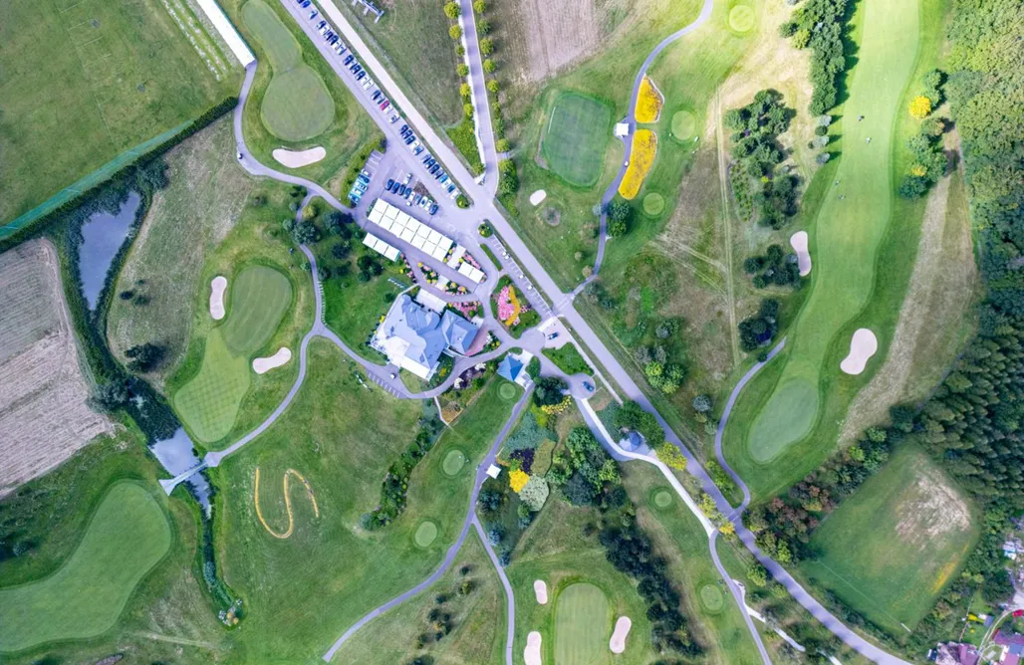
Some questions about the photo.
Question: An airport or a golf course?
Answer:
golf course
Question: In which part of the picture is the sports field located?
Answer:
bottom right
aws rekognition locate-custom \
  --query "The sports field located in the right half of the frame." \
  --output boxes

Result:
[809,443,978,634]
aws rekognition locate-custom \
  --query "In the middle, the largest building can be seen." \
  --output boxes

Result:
[369,284,478,382]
